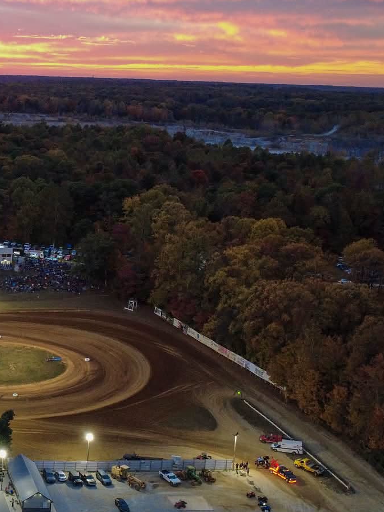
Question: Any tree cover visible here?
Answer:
Yes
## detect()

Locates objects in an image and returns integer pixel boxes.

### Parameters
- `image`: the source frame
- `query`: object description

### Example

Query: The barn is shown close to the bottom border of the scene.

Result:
[5,449,56,512]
